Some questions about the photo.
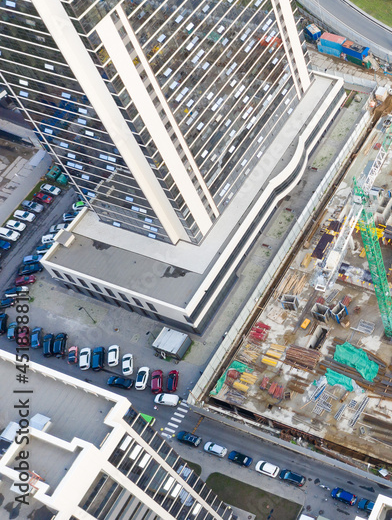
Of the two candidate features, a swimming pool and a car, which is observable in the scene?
car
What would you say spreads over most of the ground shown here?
buildings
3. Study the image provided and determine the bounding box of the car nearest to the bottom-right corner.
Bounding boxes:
[353,498,376,515]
